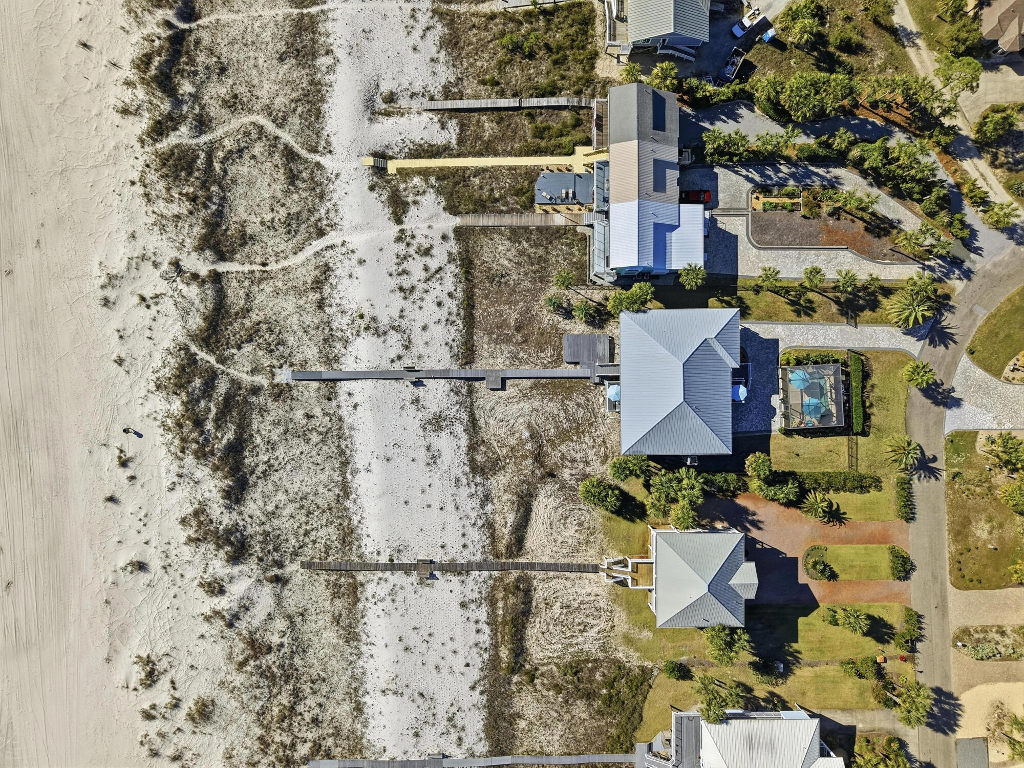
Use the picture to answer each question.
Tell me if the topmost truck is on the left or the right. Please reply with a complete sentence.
It is on the right.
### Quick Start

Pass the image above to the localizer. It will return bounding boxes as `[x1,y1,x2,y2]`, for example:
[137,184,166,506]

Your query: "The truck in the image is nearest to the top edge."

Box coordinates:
[731,3,769,41]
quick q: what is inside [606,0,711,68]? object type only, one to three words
house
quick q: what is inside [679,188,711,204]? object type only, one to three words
car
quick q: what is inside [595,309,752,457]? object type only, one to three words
house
